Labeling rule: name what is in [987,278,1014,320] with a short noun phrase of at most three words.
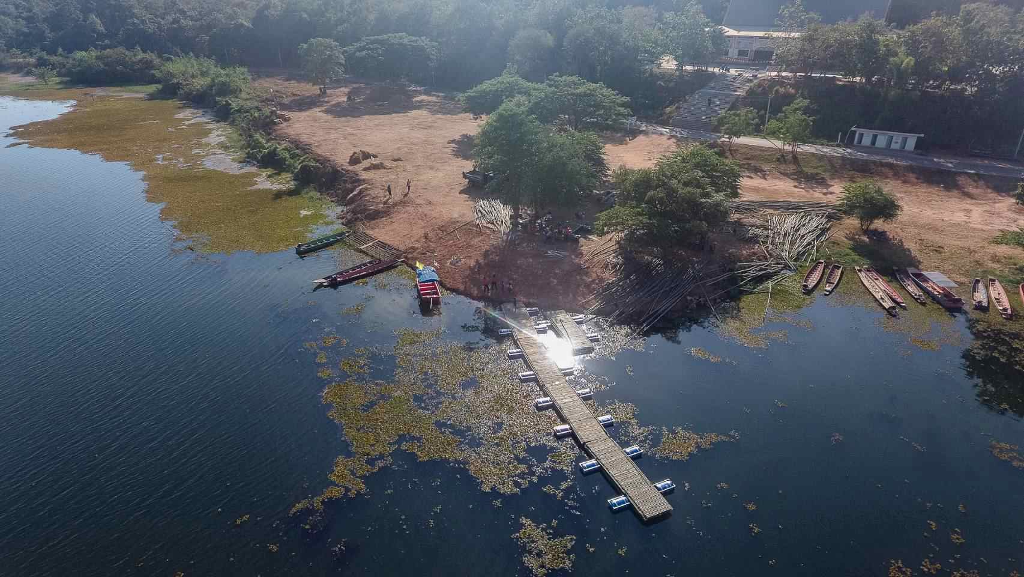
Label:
boat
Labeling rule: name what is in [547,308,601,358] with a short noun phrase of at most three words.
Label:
pier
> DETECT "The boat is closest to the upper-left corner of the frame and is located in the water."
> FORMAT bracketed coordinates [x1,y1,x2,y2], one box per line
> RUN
[289,231,349,255]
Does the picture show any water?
Yes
